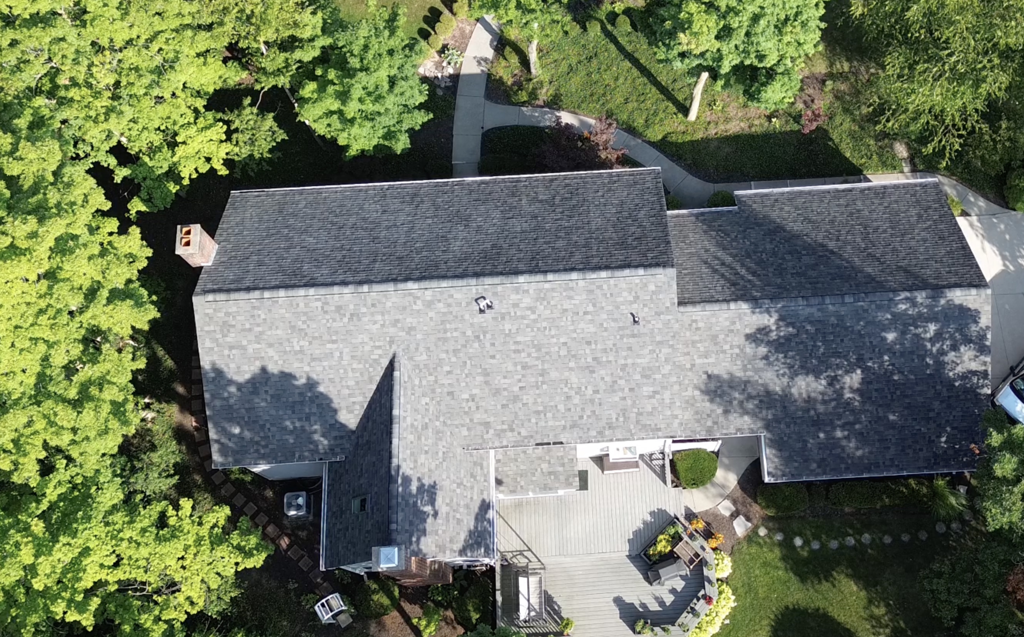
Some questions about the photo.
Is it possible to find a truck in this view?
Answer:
No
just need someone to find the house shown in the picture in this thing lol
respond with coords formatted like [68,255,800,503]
[176,163,992,585]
